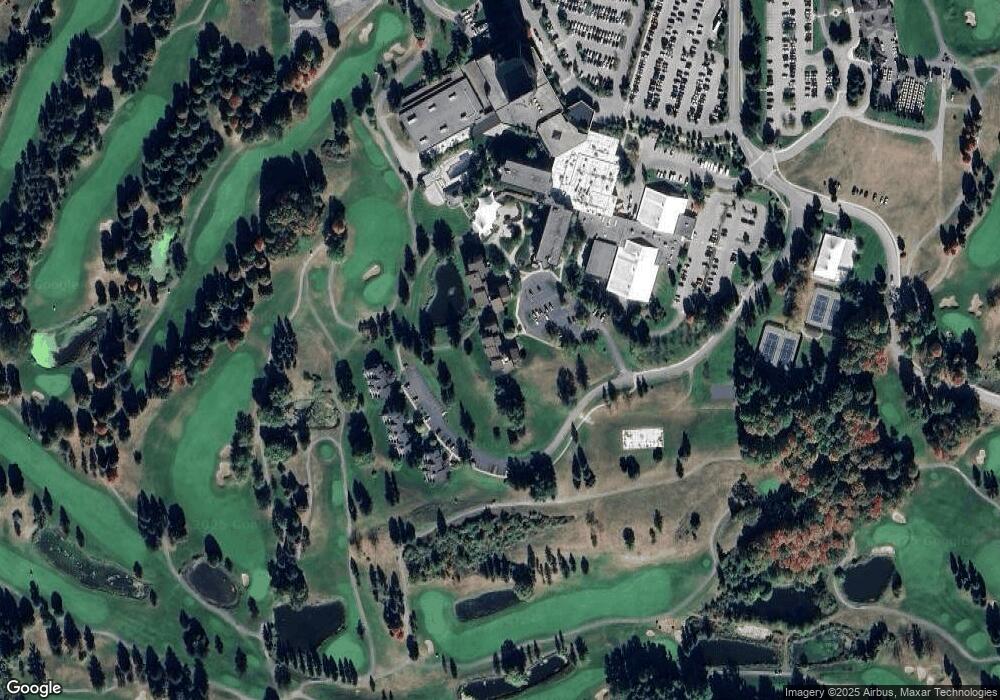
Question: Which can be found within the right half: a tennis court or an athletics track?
tennis court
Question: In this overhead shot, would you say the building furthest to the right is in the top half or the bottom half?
top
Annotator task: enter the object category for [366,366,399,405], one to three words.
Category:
house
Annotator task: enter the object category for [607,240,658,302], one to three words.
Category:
building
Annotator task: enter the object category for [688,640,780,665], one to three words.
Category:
pond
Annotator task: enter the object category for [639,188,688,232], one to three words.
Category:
building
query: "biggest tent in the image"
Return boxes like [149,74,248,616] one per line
[473,192,501,241]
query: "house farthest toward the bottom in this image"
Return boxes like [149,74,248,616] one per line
[419,447,452,485]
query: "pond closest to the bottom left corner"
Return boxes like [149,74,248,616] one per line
[38,528,149,597]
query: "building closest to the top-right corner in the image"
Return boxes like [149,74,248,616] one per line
[858,0,894,34]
